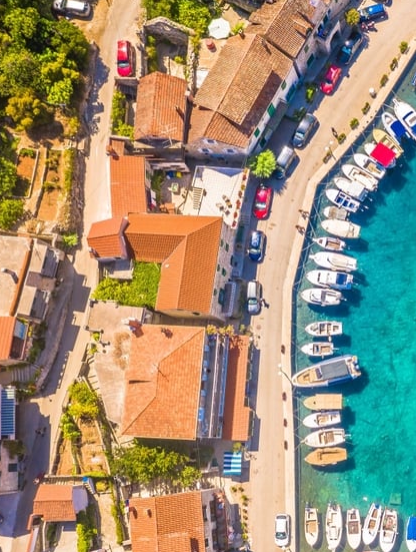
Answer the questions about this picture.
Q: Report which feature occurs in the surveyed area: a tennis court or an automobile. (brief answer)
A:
automobile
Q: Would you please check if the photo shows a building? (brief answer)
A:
Yes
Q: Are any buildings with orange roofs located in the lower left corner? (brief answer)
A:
Yes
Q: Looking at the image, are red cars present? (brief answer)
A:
Yes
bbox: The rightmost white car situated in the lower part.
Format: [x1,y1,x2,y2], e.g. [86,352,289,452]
[273,512,292,547]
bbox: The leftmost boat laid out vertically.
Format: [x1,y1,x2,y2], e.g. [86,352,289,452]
[304,503,320,552]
